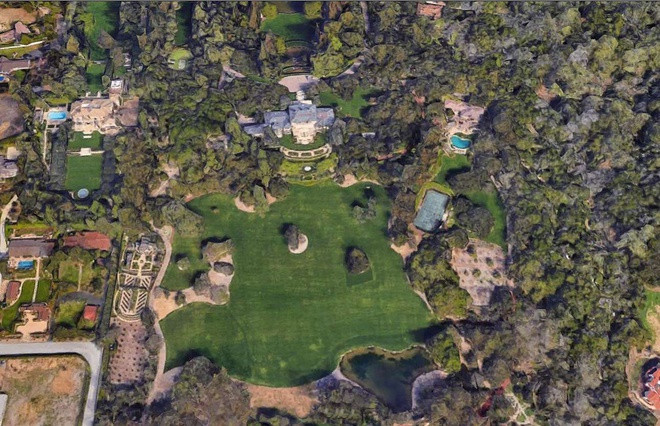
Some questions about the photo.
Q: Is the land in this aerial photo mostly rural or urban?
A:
rural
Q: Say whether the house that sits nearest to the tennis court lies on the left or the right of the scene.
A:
right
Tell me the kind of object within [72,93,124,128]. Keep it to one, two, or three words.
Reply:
house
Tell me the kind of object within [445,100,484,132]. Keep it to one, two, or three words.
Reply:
house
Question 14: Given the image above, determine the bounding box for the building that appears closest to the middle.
[245,89,335,140]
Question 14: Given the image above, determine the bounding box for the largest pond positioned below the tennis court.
[340,345,438,412]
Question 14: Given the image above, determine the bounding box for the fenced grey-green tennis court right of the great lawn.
[413,187,451,231]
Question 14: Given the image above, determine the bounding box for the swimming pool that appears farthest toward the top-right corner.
[450,134,471,149]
